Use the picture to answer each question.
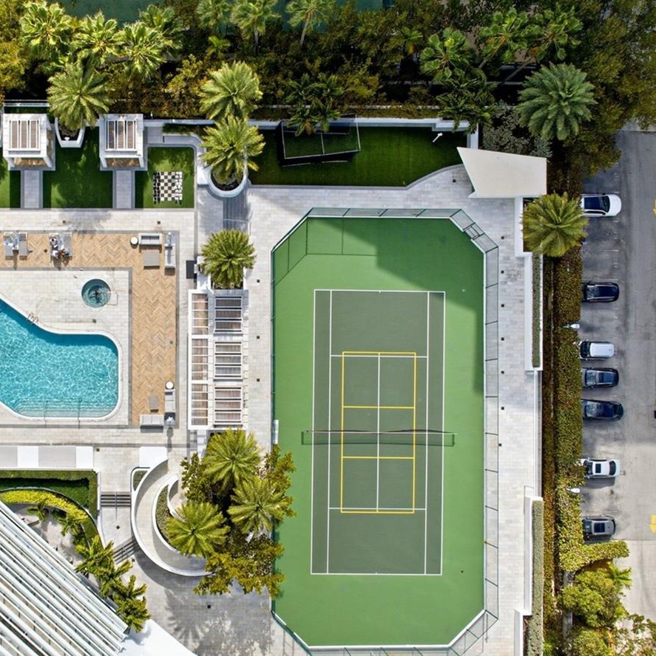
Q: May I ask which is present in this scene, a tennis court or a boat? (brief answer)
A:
tennis court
